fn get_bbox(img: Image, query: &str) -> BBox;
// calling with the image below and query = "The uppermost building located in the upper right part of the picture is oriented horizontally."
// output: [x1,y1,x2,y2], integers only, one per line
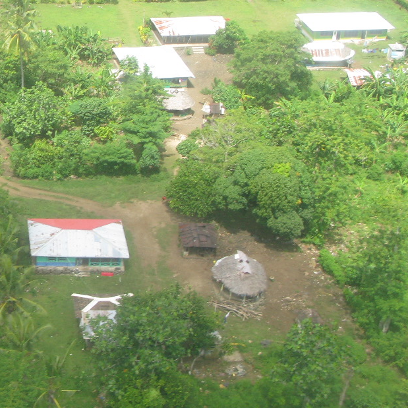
[300,11,395,44]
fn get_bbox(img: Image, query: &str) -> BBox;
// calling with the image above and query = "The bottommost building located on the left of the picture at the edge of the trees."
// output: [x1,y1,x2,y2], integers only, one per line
[75,293,140,346]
